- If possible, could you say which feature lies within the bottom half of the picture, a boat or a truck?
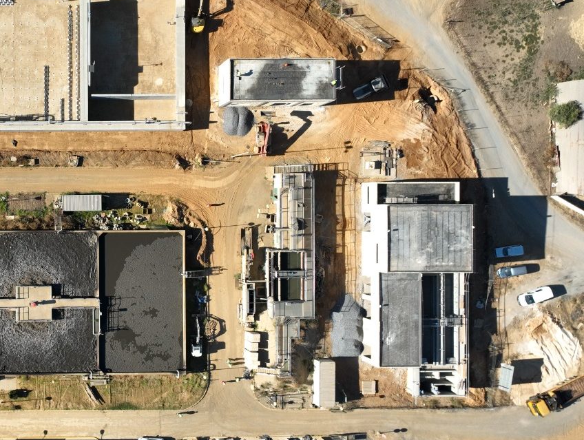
truck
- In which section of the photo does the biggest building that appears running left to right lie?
top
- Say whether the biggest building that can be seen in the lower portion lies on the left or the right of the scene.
right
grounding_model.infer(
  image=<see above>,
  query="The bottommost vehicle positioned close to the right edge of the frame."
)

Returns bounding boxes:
[515,366,584,417]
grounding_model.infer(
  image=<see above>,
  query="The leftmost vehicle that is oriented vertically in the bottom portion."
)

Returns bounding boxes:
[188,320,202,356]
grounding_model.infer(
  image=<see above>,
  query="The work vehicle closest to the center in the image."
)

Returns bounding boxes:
[251,114,274,156]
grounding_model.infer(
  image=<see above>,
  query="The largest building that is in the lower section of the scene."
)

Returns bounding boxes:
[351,182,474,399]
